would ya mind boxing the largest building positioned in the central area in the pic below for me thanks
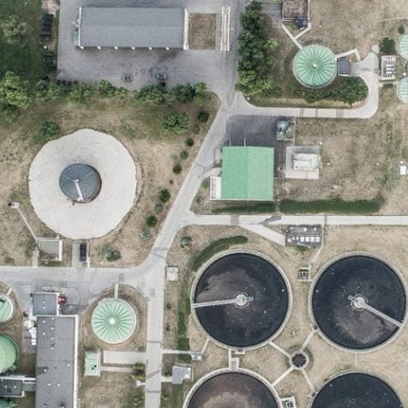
[210,146,273,201]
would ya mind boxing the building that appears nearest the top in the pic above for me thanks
[282,0,309,20]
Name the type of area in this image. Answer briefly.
industrial area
